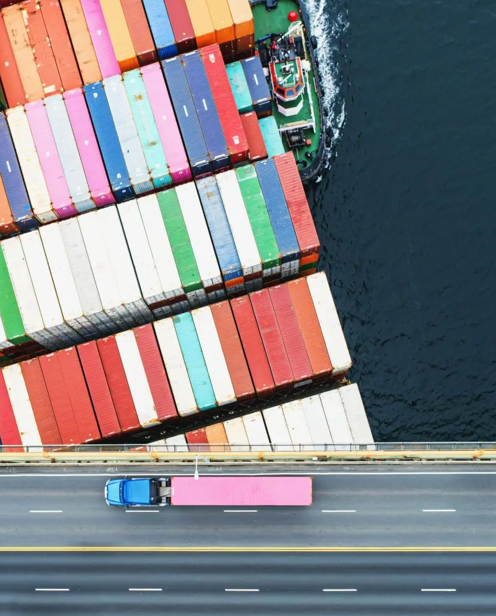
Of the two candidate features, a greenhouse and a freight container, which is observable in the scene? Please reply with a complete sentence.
Visible in the photo is a freight container.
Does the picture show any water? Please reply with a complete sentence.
Yes, the picture does contain water.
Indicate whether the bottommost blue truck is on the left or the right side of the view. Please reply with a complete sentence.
The bottommost blue truck sits on the left side.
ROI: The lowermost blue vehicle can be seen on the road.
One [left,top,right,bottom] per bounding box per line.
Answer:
[104,475,172,509]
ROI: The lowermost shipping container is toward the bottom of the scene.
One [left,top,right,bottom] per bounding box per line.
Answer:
[172,477,312,506]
